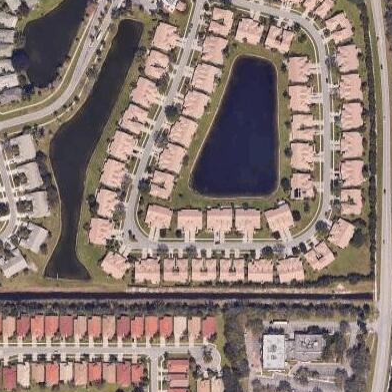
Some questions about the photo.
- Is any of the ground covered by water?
Yes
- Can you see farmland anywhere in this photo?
No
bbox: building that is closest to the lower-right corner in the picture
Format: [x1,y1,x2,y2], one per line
[263,334,324,370]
